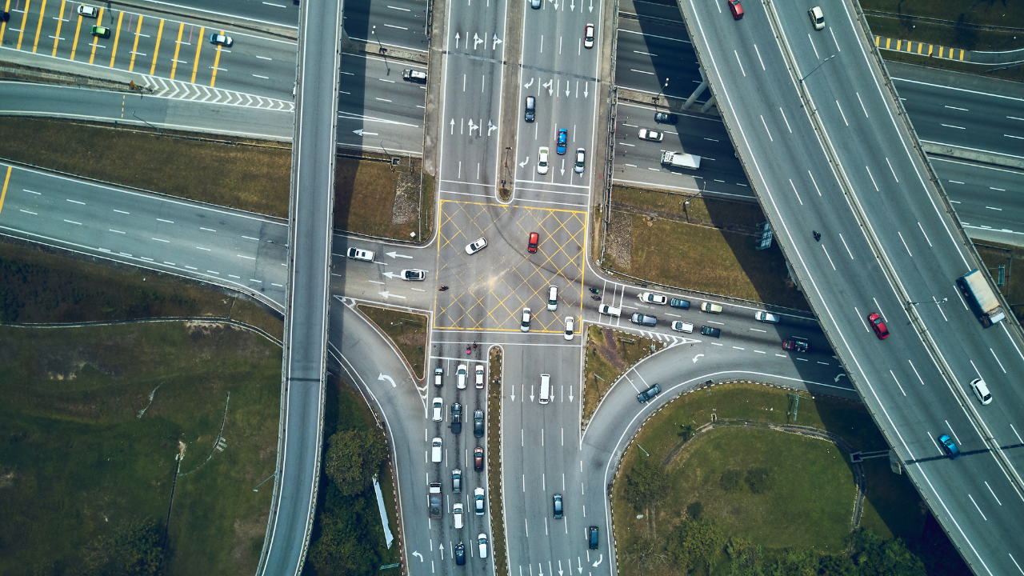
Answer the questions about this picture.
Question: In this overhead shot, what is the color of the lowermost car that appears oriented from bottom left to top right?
blue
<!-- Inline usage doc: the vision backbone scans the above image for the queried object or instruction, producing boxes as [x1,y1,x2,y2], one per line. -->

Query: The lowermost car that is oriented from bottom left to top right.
[637,383,661,403]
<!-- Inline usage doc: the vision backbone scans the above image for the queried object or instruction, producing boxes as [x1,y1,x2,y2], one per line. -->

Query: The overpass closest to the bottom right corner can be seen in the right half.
[675,0,1024,576]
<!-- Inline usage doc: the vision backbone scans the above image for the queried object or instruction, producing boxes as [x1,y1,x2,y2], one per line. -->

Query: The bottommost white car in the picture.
[477,532,489,559]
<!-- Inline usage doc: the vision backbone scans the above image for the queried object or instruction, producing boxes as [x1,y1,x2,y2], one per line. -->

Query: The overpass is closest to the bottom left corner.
[254,0,346,576]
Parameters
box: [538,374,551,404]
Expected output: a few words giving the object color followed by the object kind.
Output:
white vehicle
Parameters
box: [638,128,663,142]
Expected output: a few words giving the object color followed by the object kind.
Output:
white car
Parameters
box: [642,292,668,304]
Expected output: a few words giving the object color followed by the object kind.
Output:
white vehicle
